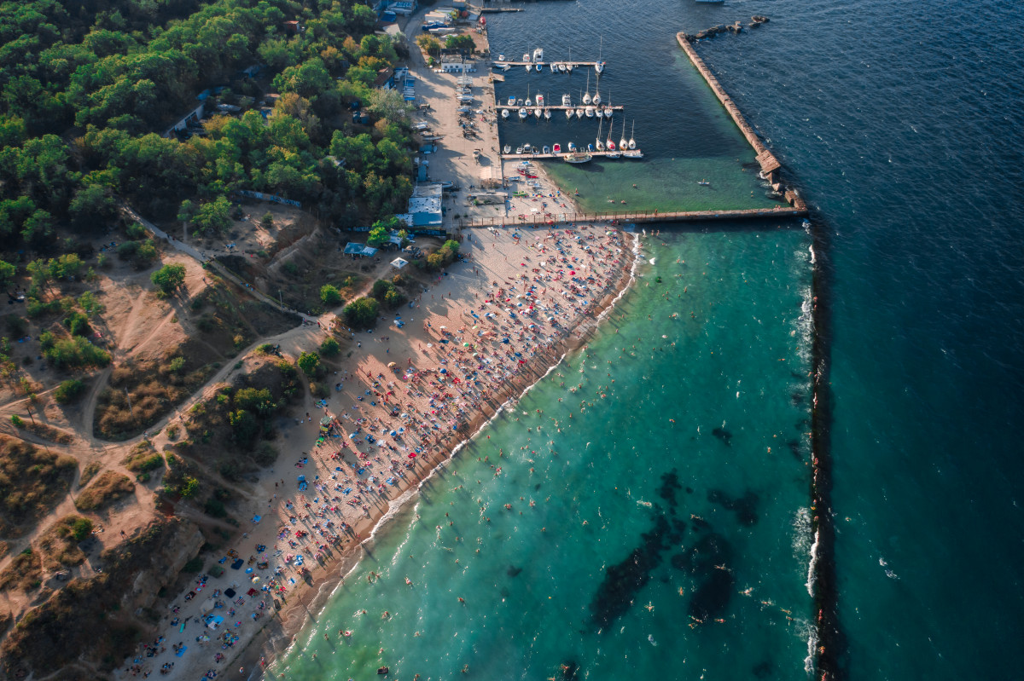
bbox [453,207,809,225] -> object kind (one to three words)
pier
